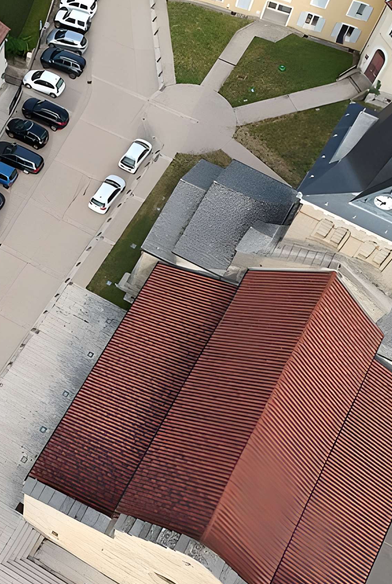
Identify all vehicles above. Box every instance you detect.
[20,101,71,130]
[0,163,20,189]
[45,30,89,55]
[53,8,95,34]
[0,143,46,175]
[39,48,87,77]
[59,0,98,18]
[21,71,67,99]
[4,120,50,149]
[85,174,127,216]
[115,138,155,176]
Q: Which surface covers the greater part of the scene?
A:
buildings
